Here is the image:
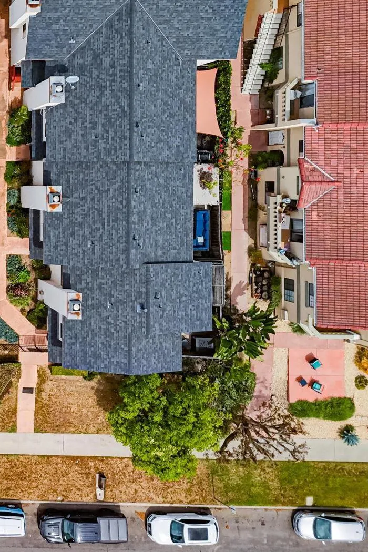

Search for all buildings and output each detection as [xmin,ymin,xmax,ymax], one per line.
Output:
[232,0,368,339]
[9,0,248,374]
